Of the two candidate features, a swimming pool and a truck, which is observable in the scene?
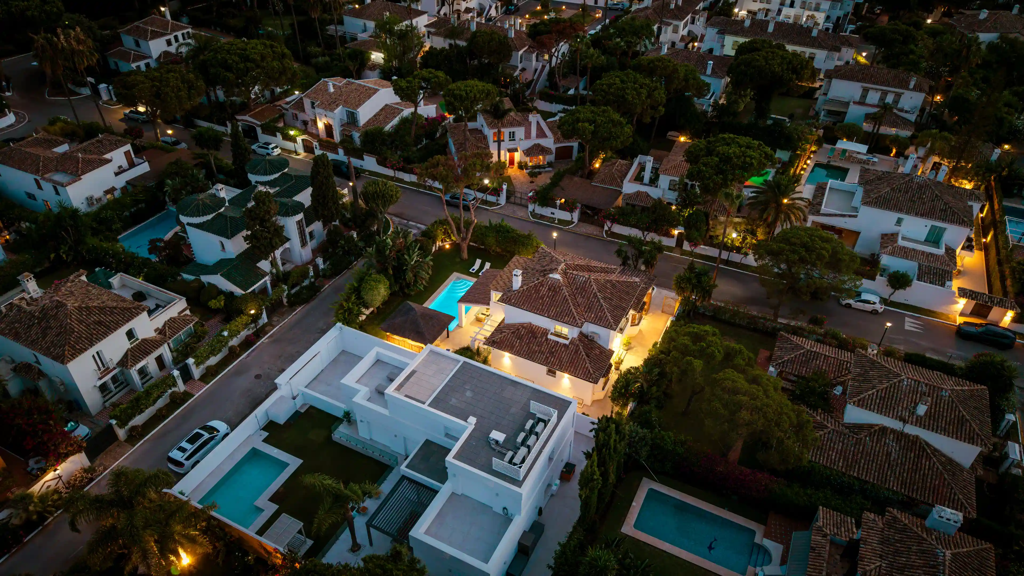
swimming pool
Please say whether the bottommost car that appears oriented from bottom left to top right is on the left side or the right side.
left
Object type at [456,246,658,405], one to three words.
house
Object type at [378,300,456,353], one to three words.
building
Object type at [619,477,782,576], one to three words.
swimming pool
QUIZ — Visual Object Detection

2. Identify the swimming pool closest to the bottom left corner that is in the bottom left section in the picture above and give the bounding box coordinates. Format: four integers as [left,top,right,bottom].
[194,432,303,531]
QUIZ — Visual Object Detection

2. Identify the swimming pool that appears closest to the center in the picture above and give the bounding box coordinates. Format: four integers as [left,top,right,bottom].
[422,272,479,334]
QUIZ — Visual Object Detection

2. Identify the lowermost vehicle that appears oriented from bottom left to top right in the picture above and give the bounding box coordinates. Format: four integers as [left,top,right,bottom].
[166,421,228,472]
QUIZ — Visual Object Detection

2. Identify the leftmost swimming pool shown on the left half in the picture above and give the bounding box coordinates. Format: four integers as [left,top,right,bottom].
[113,205,188,265]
